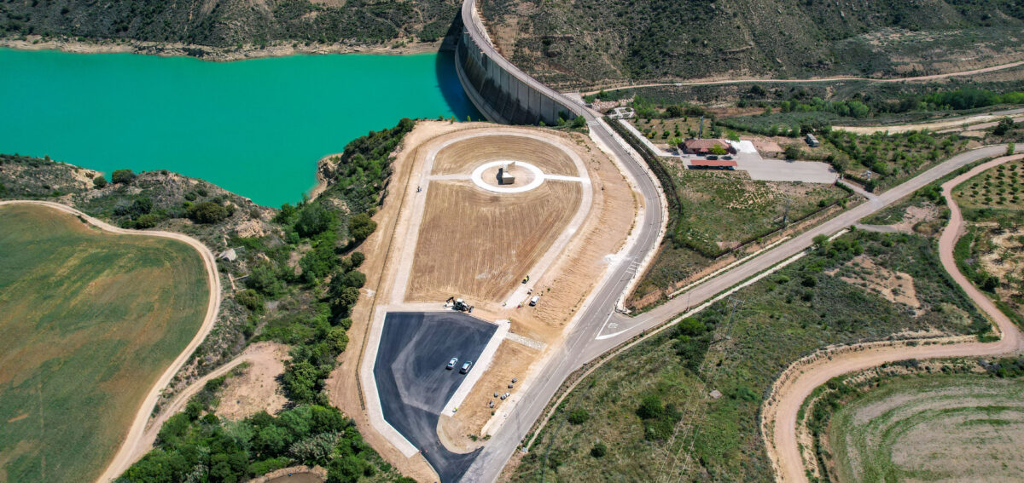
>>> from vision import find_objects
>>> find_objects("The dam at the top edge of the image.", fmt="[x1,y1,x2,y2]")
[457,0,597,127]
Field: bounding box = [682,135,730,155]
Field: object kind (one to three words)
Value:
house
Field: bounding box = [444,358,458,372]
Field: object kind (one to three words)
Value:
car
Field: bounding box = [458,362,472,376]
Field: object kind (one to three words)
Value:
car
